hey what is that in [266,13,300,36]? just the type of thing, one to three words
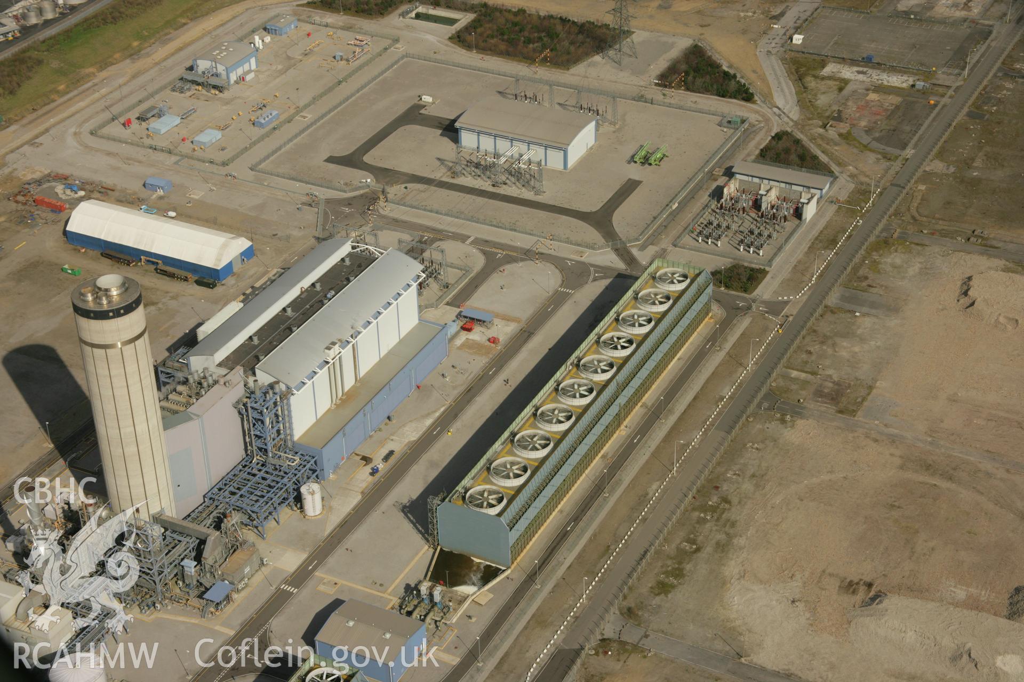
building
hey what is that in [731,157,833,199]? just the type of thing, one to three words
building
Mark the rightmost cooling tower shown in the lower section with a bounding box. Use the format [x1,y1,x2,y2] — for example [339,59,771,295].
[435,259,714,567]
